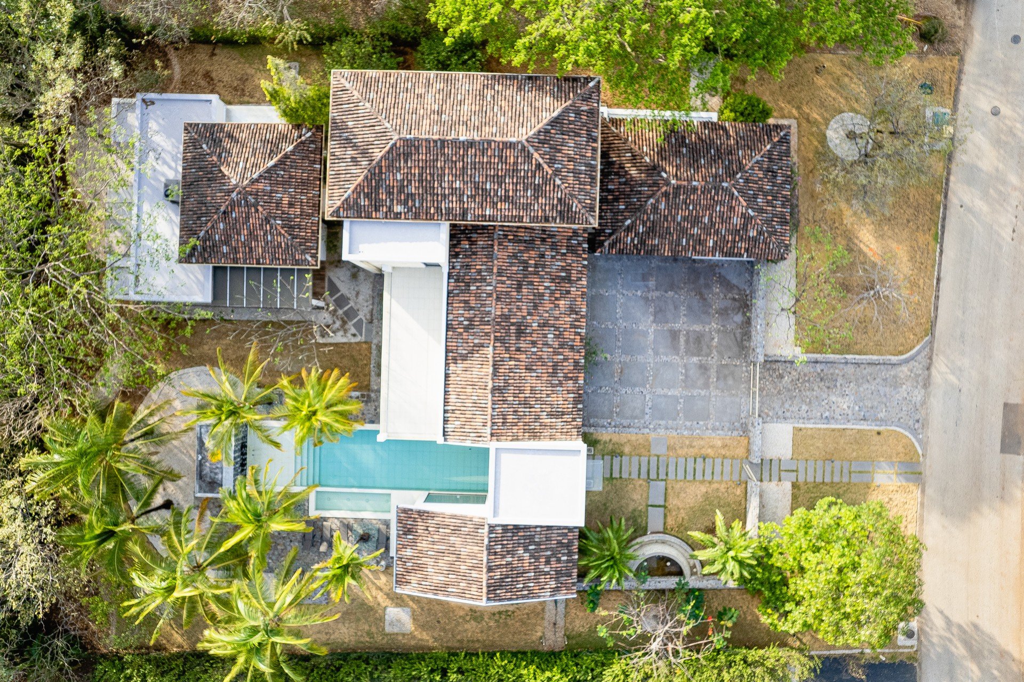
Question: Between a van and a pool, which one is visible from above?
pool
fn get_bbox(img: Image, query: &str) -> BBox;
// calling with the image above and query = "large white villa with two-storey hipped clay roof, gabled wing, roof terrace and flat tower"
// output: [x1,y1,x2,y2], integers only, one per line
[324,69,604,606]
